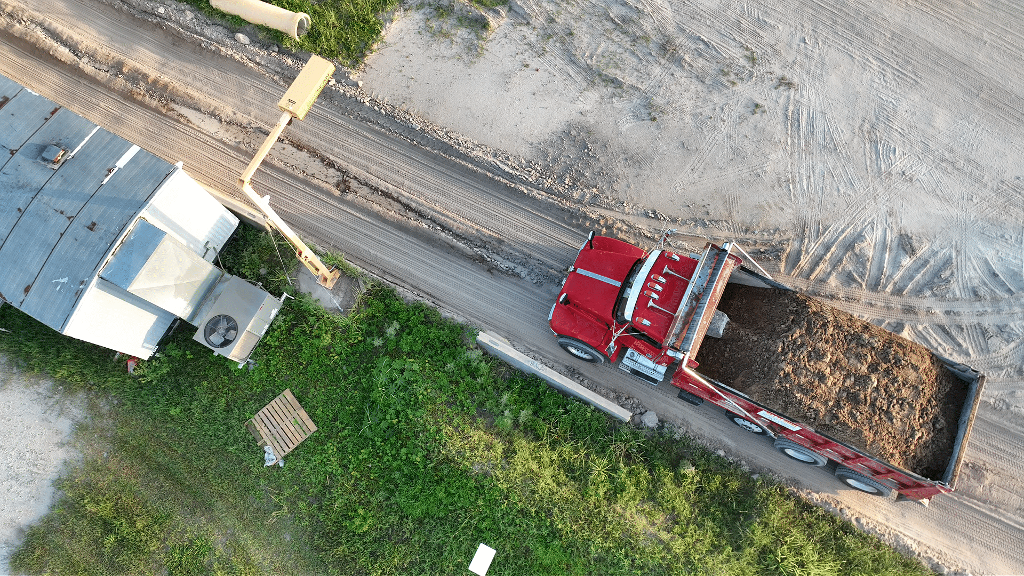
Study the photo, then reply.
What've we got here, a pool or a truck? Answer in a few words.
truck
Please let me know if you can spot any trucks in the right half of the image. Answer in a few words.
Yes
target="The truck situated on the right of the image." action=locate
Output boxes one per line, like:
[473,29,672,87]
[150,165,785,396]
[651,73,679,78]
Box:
[551,213,992,499]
